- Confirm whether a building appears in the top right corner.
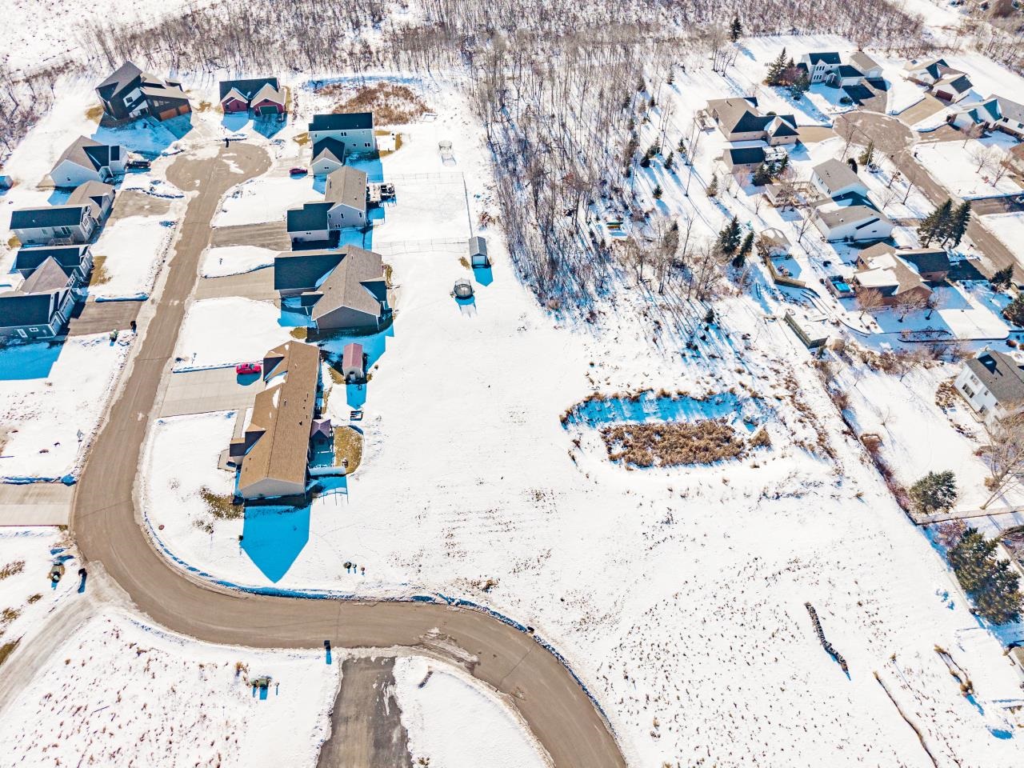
Yes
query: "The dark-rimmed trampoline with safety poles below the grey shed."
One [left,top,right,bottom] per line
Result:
[452,281,473,301]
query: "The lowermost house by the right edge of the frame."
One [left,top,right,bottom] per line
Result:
[954,345,1024,434]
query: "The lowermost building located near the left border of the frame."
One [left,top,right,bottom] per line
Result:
[0,245,101,339]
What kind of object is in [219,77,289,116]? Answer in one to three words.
house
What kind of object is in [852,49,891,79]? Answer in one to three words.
building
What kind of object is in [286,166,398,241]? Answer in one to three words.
house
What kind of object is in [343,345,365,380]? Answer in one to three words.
shed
